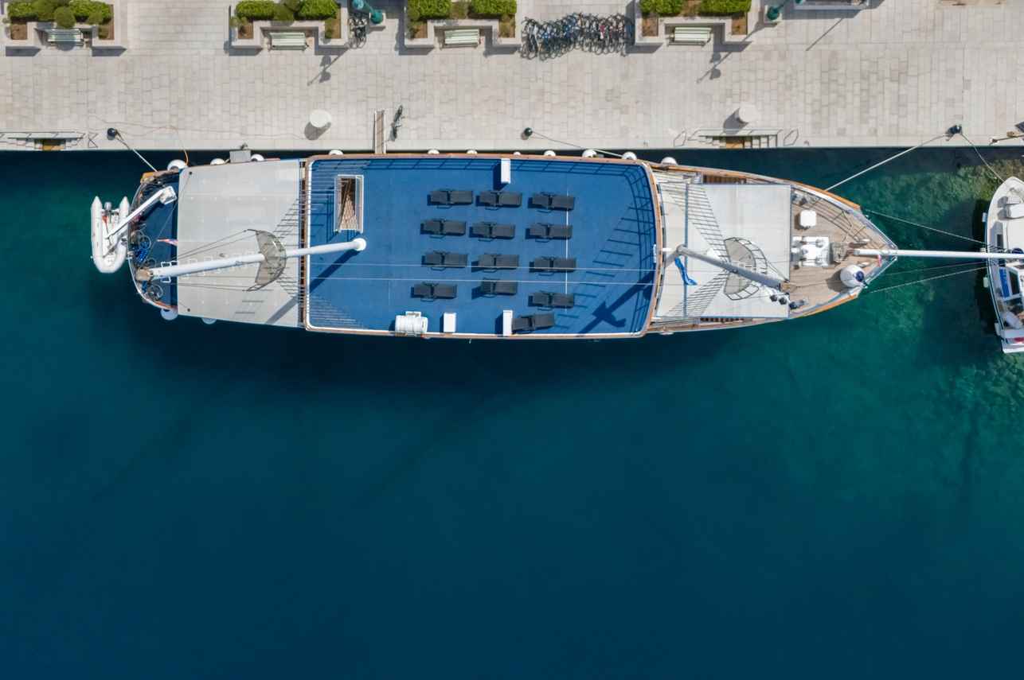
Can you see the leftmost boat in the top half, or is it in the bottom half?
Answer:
top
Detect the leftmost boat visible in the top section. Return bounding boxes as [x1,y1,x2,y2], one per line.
[91,195,129,270]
